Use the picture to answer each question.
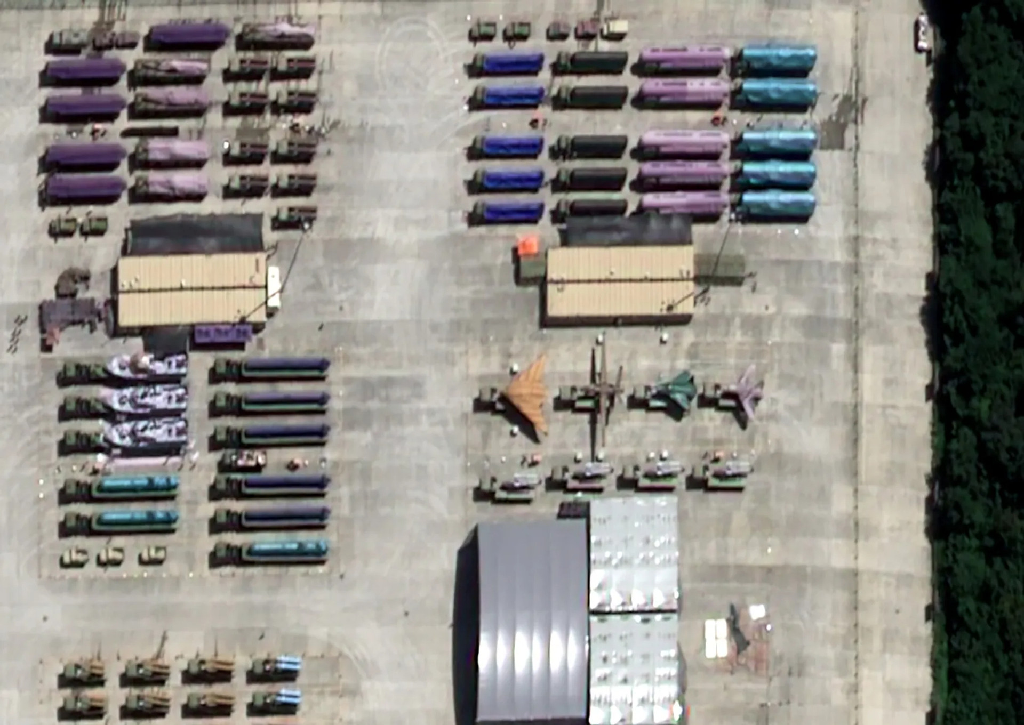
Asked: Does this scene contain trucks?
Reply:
Yes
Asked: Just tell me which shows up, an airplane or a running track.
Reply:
airplane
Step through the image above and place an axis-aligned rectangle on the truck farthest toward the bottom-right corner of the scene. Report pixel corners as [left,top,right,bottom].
[689,464,744,489]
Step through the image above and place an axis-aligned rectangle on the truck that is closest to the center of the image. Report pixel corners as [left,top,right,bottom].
[477,387,520,411]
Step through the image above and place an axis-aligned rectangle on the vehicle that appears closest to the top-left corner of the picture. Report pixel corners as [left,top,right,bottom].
[50,30,88,50]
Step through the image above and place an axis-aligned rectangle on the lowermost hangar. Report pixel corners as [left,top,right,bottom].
[470,519,591,725]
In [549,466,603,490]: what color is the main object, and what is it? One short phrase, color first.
gray truck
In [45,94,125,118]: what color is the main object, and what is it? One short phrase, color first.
purple truck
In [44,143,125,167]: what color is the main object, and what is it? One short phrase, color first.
purple truck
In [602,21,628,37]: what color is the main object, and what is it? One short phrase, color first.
white car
